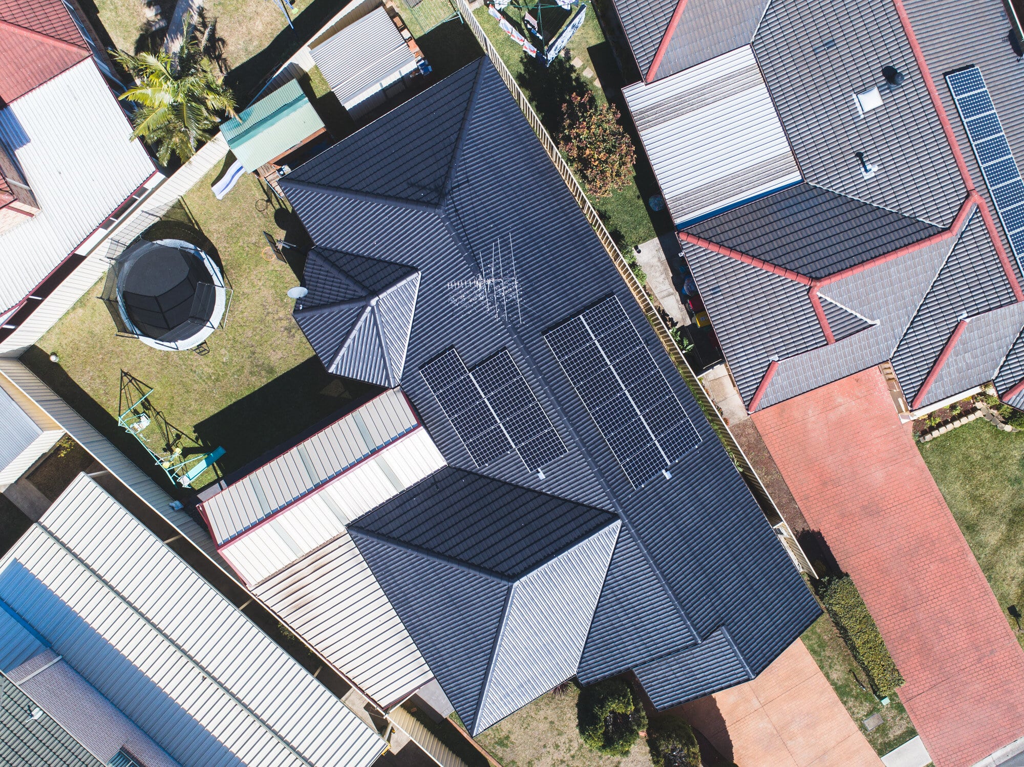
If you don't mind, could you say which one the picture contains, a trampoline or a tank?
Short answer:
trampoline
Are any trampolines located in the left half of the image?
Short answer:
Yes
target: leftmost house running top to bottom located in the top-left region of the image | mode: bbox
[0,145,42,237]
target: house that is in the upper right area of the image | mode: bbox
[606,0,1024,413]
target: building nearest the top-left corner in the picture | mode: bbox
[0,0,168,121]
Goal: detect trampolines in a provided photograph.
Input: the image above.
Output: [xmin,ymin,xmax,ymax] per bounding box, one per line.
[88,230,235,354]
